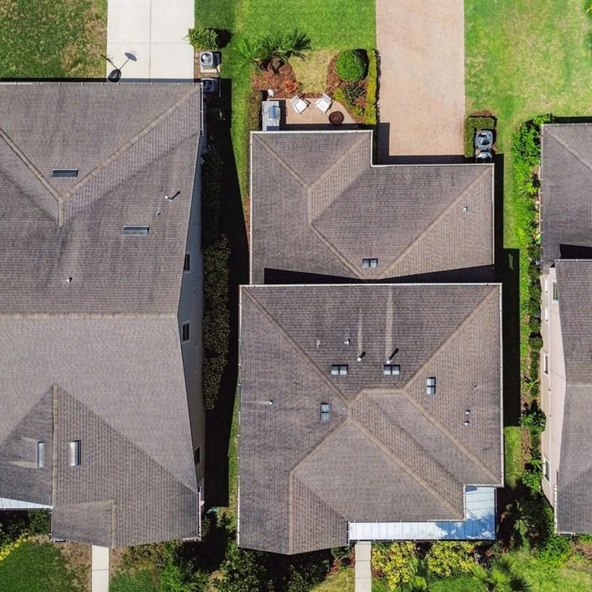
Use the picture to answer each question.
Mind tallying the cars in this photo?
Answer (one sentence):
Not a single car can be seen.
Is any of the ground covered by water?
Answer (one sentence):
No, no water is visible.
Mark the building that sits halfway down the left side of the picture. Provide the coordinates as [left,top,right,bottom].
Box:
[0,81,205,548]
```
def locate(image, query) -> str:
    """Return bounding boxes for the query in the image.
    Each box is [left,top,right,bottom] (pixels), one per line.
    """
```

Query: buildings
[235,129,503,554]
[0,81,205,548]
[539,123,592,539]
